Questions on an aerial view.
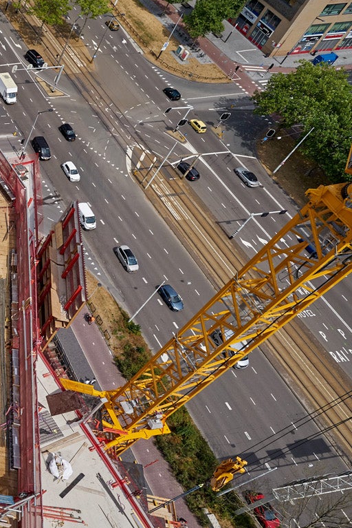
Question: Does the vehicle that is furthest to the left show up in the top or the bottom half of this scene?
top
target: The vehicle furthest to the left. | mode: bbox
[0,71,20,109]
